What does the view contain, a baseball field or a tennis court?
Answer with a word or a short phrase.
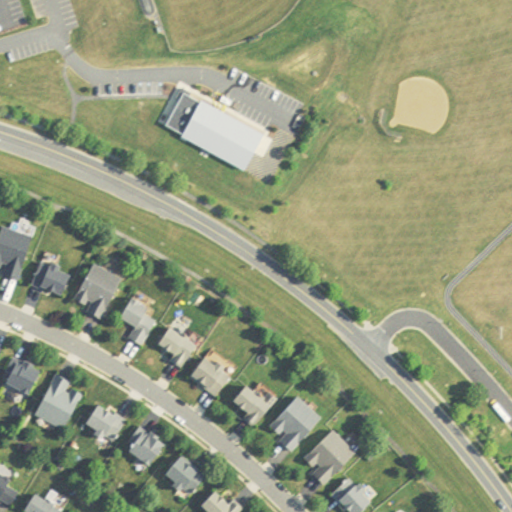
baseball field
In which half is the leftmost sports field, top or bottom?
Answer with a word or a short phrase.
top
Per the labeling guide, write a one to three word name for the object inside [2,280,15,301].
vehicle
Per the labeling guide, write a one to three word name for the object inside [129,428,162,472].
house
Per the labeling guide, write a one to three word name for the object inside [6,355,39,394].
house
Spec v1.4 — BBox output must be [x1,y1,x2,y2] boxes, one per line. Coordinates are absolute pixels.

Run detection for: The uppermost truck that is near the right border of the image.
[490,400,512,424]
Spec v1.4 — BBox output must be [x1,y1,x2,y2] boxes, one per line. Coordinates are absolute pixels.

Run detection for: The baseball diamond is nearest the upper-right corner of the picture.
[380,76,450,142]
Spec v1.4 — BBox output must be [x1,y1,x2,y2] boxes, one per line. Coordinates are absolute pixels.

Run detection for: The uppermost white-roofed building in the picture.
[156,88,264,172]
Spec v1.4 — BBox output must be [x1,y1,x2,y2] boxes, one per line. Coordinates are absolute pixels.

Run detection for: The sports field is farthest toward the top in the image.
[152,0,298,54]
